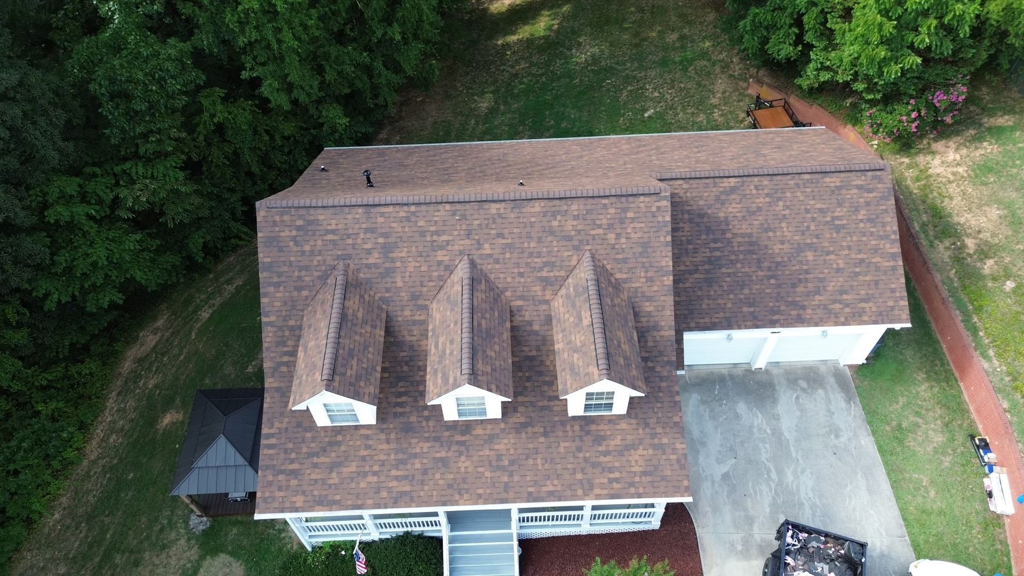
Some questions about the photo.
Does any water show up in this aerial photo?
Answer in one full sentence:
No, no water is visible.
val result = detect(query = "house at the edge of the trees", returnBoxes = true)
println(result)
[254,127,911,576]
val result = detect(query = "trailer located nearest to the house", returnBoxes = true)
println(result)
[746,87,804,130]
